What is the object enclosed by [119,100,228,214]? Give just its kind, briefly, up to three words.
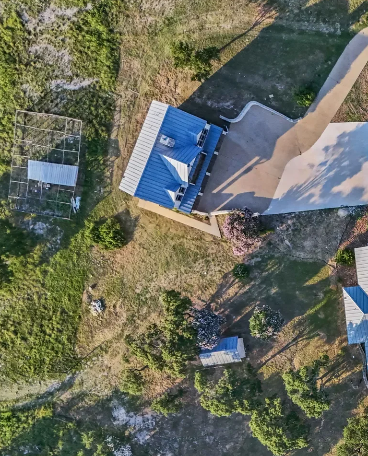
building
